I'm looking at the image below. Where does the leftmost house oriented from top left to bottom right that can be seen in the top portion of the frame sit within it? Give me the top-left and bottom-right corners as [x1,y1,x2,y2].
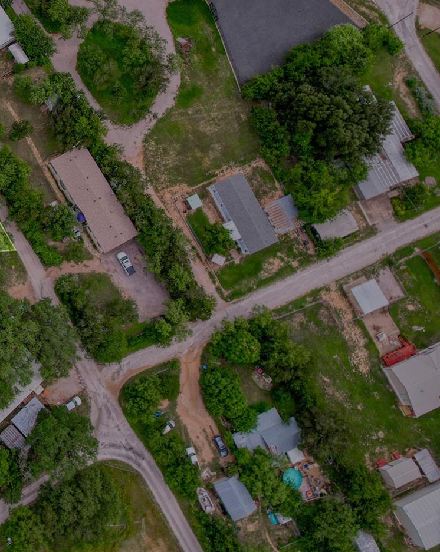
[48,149,137,255]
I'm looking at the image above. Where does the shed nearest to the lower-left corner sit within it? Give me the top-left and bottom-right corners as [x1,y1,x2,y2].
[0,425,25,451]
